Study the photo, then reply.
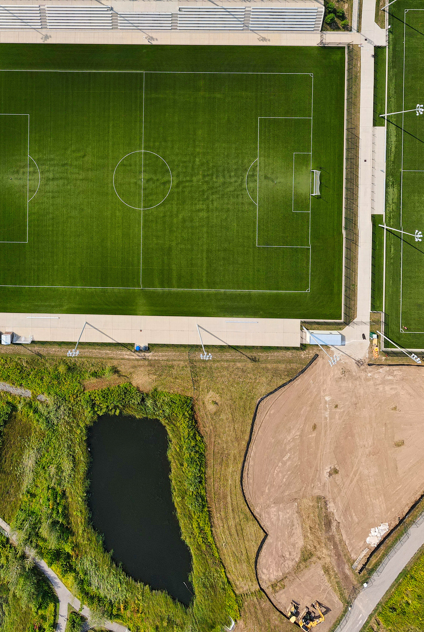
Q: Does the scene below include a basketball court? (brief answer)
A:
No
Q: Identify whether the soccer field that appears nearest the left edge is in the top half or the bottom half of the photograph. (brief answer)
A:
top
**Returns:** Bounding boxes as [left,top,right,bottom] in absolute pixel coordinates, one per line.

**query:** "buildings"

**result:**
[1,332,13,346]
[304,330,344,346]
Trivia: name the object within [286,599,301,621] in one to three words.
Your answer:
work vehicle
